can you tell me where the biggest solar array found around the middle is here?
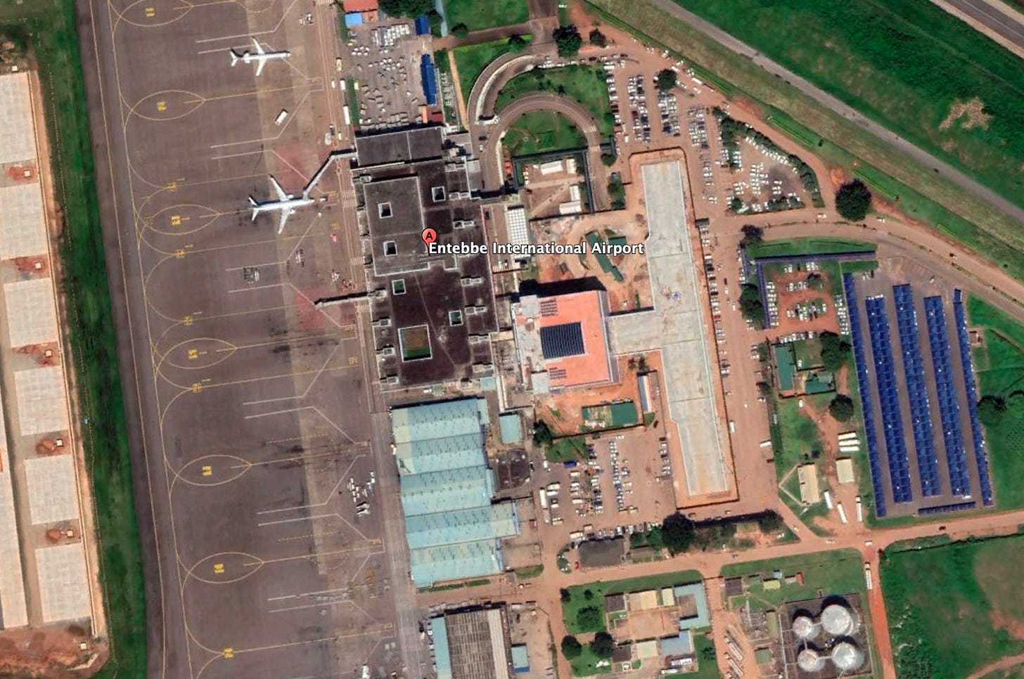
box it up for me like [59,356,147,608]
[540,321,584,359]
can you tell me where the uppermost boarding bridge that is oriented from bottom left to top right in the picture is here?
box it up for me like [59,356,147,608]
[302,151,358,200]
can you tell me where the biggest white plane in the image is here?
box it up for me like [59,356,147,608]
[248,177,314,234]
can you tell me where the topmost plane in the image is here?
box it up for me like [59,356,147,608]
[226,39,291,76]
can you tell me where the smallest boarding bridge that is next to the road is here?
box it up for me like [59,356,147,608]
[314,296,369,309]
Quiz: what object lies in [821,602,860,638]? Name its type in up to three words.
storage tank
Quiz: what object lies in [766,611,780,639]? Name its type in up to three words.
shed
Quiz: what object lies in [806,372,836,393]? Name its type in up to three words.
building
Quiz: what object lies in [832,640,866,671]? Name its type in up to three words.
storage tank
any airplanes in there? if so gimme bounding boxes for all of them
[226,39,291,76]
[248,177,314,234]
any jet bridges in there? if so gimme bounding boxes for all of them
[314,296,369,309]
[302,151,358,200]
